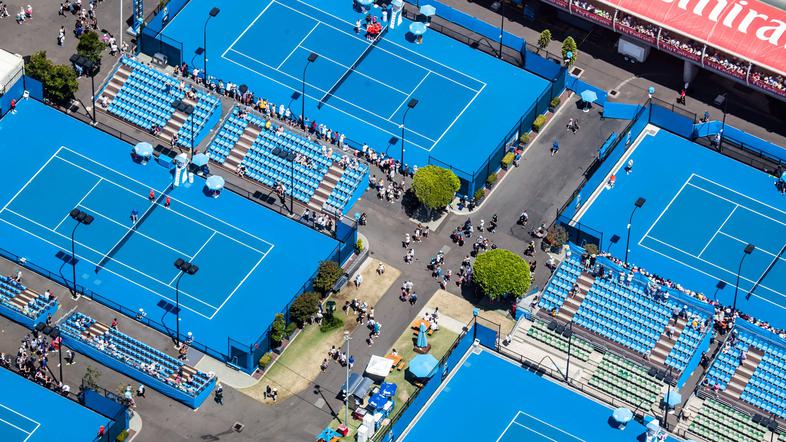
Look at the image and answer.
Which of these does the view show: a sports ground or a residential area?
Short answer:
sports ground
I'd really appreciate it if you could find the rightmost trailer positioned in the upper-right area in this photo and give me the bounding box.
[609,33,651,64]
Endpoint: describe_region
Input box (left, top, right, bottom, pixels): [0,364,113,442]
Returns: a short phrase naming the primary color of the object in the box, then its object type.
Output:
blue tennis court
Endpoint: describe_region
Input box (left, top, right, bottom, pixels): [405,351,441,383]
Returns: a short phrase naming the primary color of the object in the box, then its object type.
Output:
blue umbrella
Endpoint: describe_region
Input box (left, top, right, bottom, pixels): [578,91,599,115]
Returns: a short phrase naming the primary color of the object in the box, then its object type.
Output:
blue umbrella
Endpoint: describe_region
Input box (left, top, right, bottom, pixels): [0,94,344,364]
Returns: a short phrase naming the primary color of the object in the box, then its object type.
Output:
blue tennis court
